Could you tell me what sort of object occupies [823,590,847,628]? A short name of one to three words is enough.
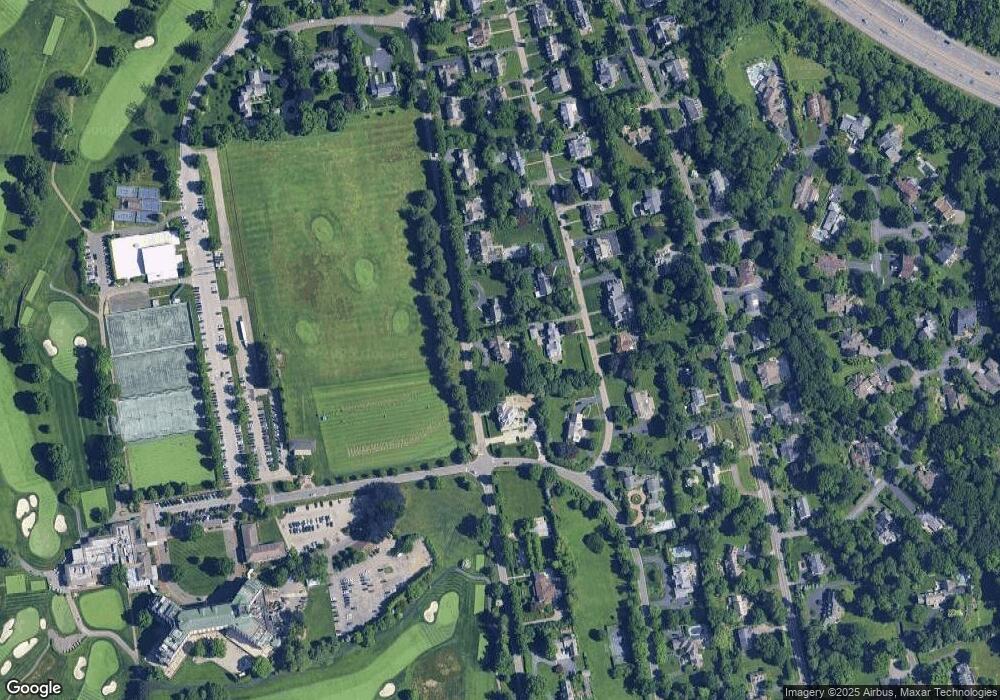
house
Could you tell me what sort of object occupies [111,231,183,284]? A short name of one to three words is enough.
building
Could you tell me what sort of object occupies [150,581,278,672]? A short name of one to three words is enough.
building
